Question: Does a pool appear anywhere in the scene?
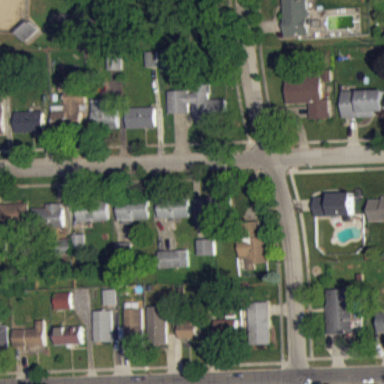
Yes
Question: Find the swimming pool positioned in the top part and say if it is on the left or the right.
right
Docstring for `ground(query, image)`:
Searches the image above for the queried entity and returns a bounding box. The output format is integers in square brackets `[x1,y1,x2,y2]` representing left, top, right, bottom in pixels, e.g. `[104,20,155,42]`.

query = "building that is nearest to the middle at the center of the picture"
[154,200,190,224]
